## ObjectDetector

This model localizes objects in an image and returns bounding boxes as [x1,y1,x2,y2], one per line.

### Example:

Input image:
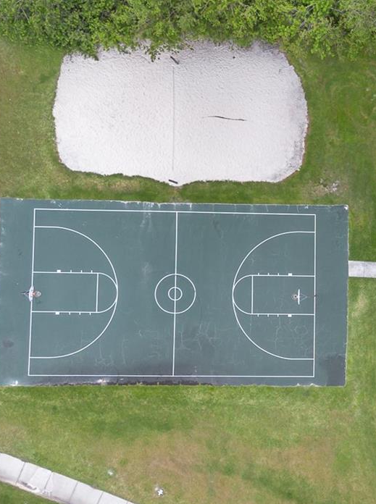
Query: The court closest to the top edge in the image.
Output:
[52,35,309,187]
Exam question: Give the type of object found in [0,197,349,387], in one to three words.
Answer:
basketball court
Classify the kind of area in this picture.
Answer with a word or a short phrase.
sports ground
